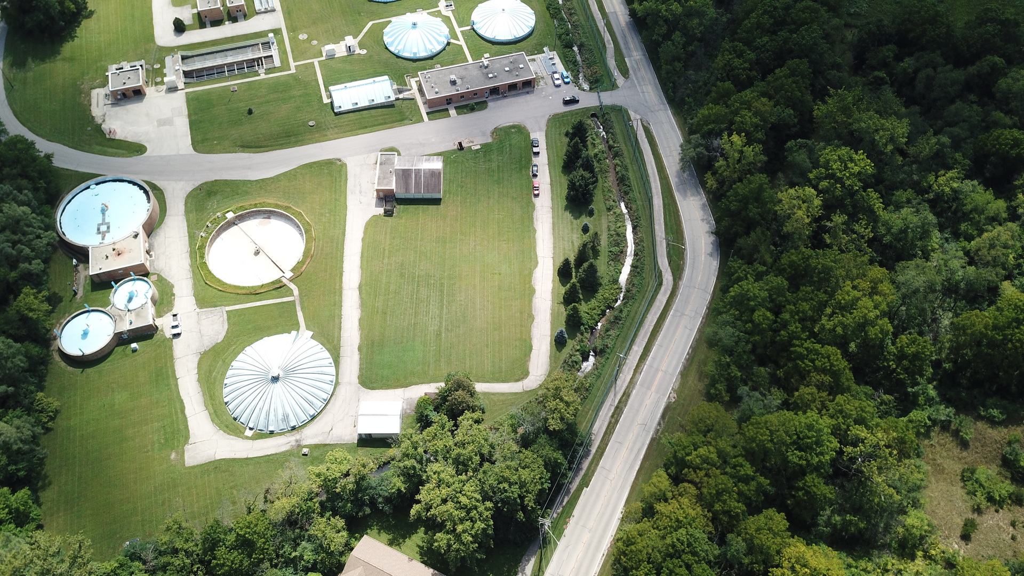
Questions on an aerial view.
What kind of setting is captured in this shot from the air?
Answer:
industrial area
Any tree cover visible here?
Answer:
Yes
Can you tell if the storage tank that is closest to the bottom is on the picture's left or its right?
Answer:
left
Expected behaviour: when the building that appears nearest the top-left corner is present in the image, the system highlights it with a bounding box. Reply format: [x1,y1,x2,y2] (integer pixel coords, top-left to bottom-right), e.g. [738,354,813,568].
[110,67,146,101]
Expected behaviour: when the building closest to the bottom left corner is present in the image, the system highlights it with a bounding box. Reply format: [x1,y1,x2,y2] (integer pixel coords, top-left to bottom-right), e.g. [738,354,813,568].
[109,301,157,341]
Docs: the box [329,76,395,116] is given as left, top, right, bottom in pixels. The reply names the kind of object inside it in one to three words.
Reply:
shed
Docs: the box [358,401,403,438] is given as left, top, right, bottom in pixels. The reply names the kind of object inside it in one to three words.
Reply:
barn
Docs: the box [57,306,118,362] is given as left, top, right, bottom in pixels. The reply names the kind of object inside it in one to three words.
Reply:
storage tank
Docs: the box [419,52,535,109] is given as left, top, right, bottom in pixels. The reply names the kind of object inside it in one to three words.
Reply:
building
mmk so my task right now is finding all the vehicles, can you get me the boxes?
[531,138,540,154]
[551,71,561,86]
[170,313,181,336]
[561,71,570,83]
[533,181,540,196]
[562,95,580,104]
[532,164,539,176]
